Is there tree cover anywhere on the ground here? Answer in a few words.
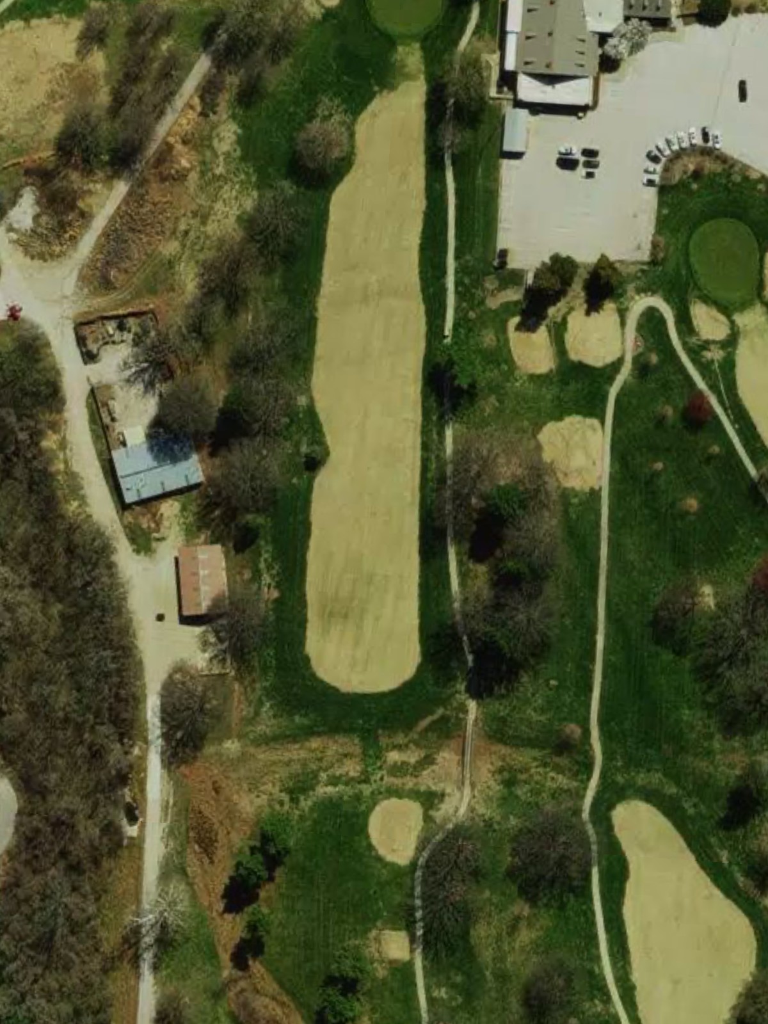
Yes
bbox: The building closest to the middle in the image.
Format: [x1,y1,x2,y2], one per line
[179,545,227,615]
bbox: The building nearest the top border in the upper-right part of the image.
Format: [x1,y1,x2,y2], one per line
[504,0,671,106]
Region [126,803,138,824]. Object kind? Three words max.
vehicle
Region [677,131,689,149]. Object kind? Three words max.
vehicle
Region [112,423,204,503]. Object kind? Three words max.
building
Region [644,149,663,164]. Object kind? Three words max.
car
